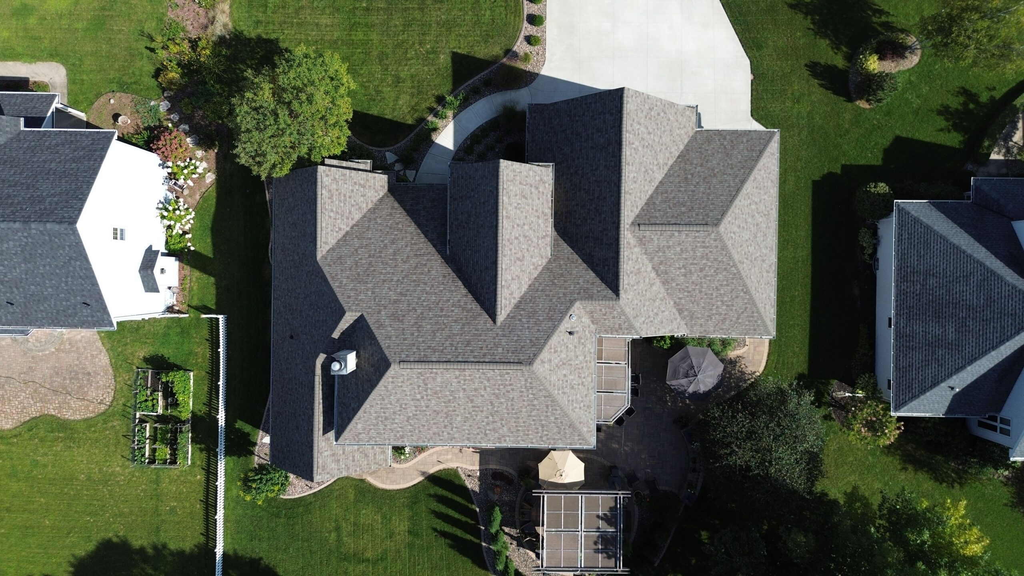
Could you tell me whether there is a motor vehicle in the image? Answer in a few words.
No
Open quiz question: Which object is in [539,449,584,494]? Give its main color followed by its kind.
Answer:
white umbrella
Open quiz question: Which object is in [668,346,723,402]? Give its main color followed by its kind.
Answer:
gray umbrella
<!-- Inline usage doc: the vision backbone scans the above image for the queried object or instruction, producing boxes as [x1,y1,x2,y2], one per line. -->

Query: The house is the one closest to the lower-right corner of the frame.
[878,177,1024,460]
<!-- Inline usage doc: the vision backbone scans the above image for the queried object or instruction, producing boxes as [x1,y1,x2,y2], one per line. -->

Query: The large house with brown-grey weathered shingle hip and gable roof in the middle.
[268,88,781,482]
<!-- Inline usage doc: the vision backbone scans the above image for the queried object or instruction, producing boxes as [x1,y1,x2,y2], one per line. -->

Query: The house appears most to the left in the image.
[0,91,178,337]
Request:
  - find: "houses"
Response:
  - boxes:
[878,177,1024,460]
[268,88,781,482]
[0,91,178,337]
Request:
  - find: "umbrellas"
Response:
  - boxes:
[668,346,723,402]
[539,449,584,494]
